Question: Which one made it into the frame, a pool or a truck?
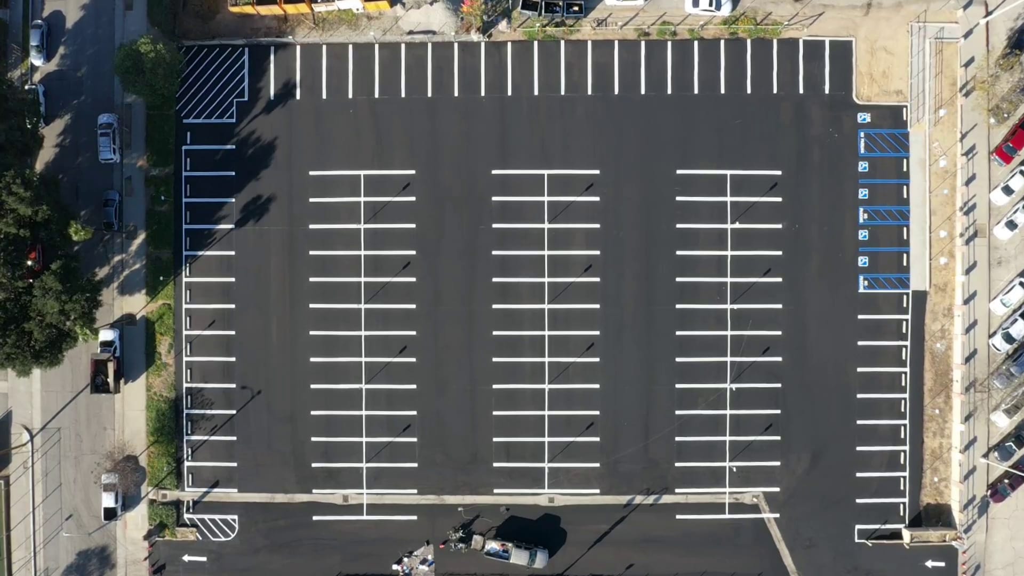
truck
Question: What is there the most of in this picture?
paved ground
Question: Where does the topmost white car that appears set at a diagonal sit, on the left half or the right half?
right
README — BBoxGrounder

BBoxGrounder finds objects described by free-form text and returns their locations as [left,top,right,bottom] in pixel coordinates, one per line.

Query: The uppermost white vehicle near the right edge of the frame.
[988,163,1024,206]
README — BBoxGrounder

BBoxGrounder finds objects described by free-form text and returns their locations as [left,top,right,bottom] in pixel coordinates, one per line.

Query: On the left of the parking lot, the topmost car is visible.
[26,19,51,67]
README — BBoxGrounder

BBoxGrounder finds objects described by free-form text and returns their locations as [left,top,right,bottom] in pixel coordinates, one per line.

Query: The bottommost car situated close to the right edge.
[986,466,1024,504]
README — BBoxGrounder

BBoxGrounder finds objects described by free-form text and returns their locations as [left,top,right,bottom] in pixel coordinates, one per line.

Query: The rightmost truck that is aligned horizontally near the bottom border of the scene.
[485,536,546,567]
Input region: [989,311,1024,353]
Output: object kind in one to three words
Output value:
car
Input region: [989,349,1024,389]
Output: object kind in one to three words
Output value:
car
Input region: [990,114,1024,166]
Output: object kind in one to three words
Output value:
truck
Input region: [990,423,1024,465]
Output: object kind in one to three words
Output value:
truck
